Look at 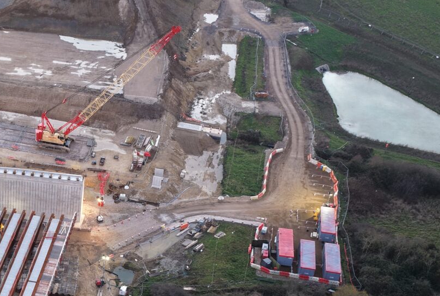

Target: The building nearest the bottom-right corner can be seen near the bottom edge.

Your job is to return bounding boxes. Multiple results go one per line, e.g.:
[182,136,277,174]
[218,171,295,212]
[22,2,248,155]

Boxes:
[323,246,344,282]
